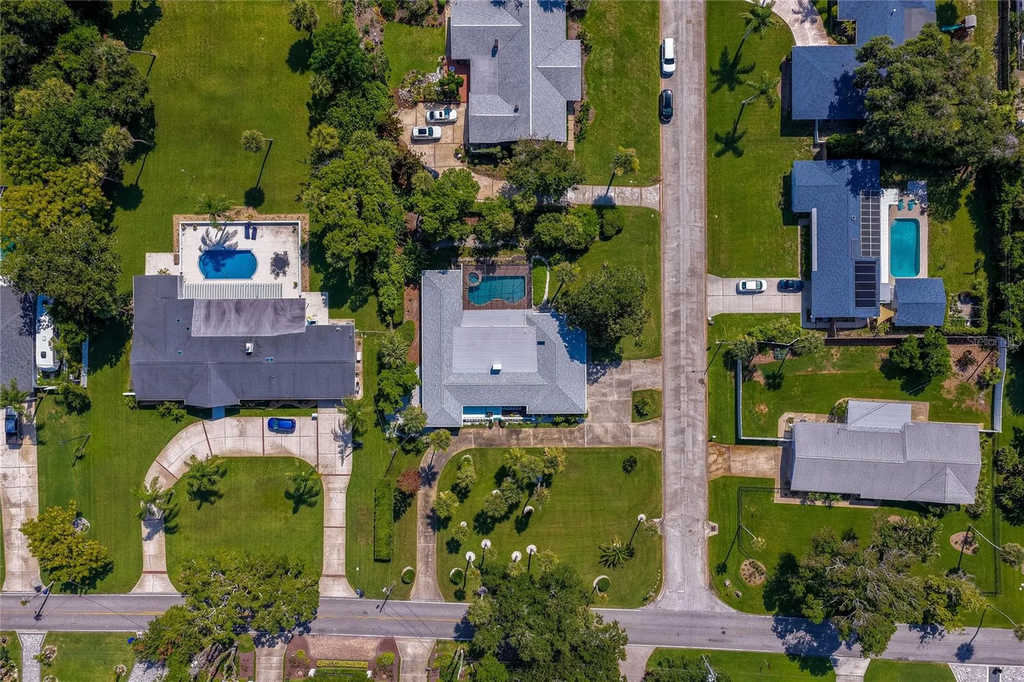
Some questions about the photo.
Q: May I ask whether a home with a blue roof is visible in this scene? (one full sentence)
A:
Yes, a home with a blue roof appears in the view.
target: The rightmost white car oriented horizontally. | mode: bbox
[736,279,766,293]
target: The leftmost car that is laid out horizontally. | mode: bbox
[268,418,297,432]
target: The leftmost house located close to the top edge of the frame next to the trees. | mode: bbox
[451,0,581,146]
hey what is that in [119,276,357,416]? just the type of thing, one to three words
house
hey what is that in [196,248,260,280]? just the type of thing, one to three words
swimming pool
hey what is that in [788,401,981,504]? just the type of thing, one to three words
house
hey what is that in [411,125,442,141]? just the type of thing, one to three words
car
